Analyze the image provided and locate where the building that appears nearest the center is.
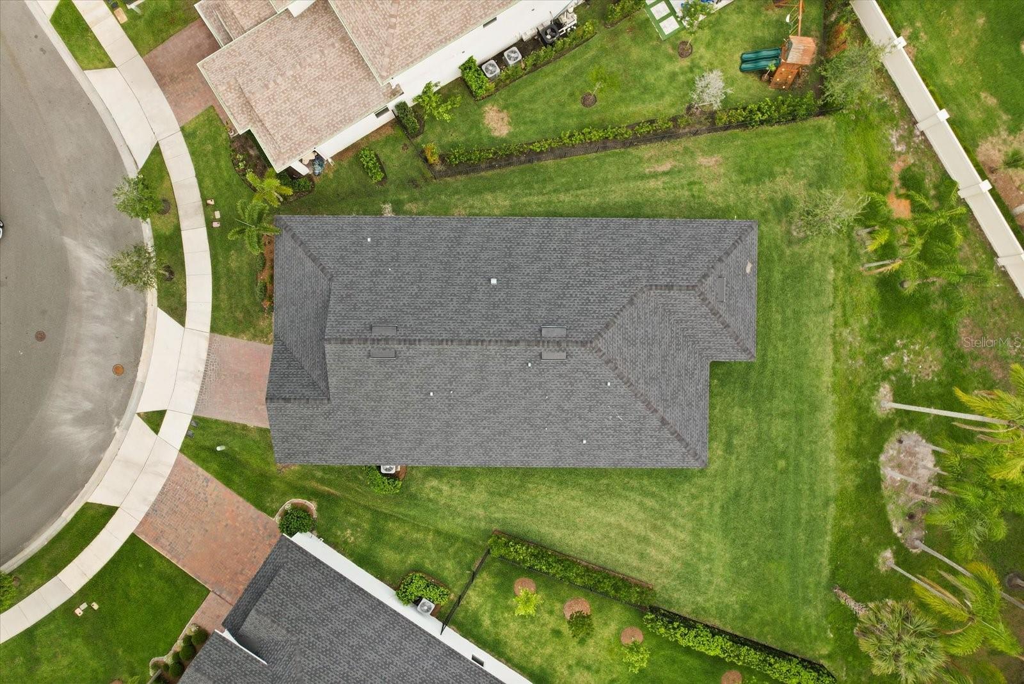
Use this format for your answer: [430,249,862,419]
[264,214,759,469]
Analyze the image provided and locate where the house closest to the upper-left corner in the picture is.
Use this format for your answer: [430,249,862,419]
[196,0,579,176]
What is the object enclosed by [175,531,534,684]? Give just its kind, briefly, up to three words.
house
